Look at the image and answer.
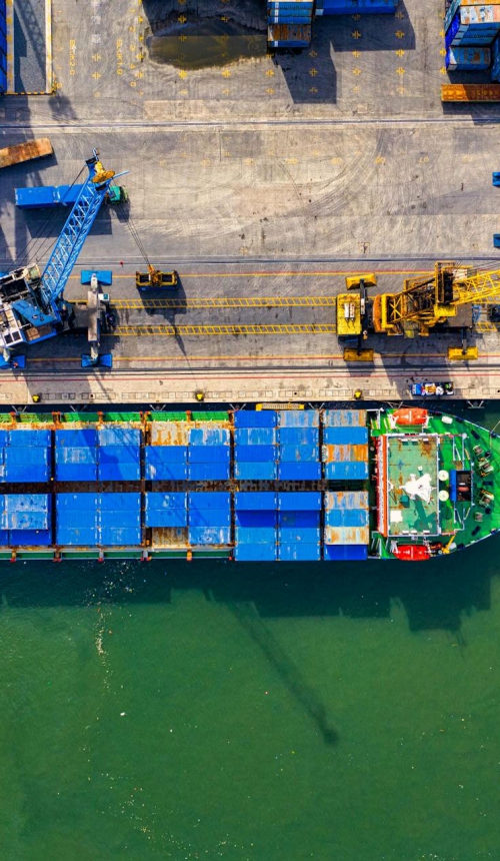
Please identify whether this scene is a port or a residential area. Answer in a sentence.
The area seen from above is a port.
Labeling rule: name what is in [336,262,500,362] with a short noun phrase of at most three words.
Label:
crane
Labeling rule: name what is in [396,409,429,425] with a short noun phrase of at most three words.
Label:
boat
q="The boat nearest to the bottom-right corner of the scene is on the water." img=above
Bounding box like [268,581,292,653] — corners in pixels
[397,545,429,560]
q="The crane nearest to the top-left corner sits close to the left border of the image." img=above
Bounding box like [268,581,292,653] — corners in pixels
[0,148,154,369]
